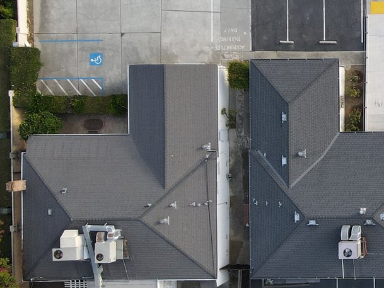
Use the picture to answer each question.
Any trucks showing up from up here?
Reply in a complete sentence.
No, there's no truck here.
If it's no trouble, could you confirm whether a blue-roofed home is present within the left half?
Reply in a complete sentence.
No, no blue-roofed home can be made out within the left half.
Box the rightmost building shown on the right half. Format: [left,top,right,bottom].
[248,58,384,288]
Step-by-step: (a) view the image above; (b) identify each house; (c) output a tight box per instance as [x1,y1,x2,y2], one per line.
[248,58,384,288]
[6,64,228,281]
